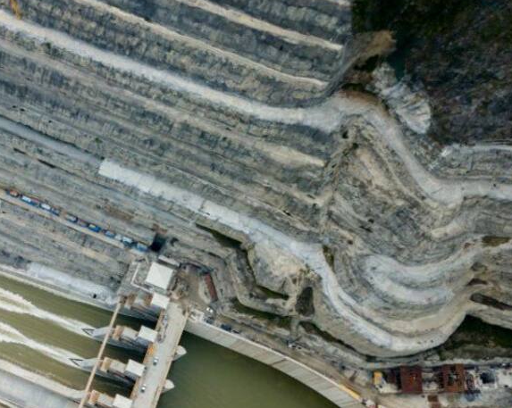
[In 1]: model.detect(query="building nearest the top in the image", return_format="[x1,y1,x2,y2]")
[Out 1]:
[146,263,174,295]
